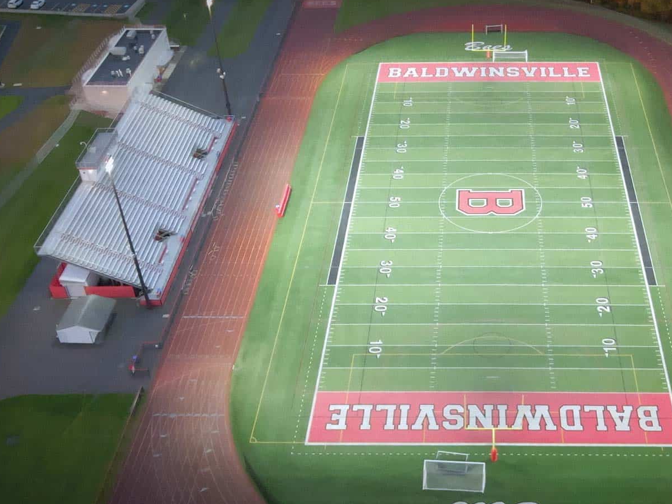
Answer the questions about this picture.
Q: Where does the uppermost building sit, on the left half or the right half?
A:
left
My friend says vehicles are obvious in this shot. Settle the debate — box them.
[8,0,24,6]
[31,0,47,7]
